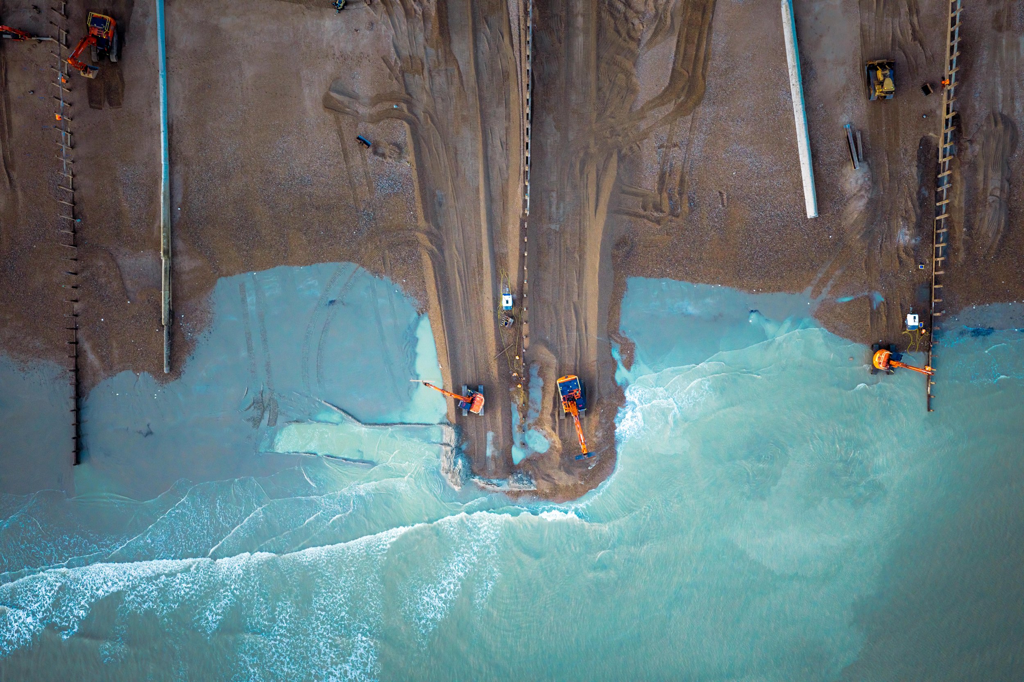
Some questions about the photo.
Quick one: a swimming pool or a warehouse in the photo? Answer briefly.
swimming pool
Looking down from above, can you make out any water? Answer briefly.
Yes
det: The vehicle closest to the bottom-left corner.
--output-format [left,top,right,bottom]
[421,382,486,417]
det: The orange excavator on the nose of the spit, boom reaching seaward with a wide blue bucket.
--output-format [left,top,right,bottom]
[558,376,595,458]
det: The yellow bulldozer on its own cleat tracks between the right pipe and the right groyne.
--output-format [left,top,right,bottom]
[863,64,898,105]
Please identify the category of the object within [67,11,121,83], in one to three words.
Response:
work vehicle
